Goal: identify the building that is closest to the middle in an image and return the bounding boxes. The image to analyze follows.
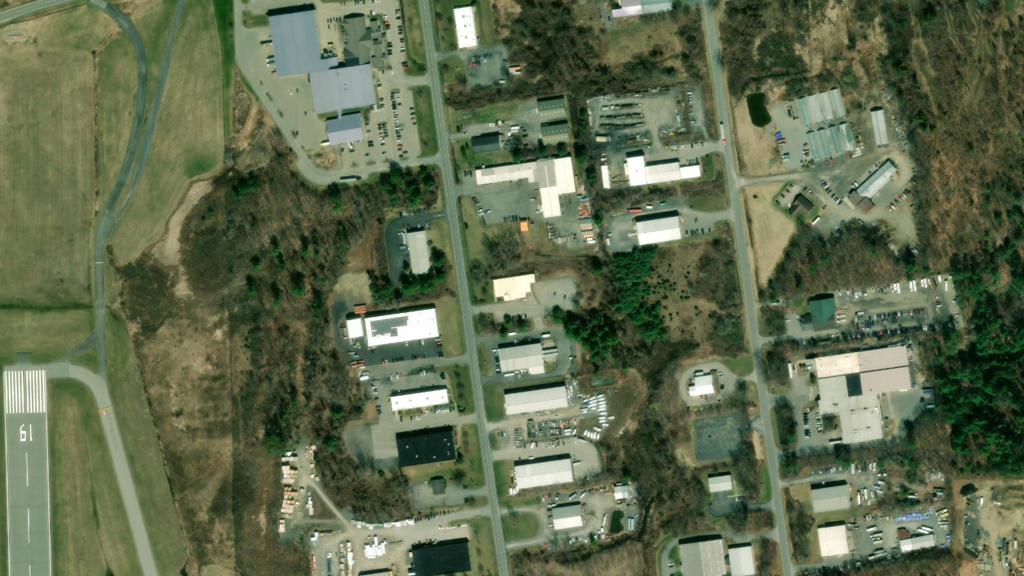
[493,274,536,301]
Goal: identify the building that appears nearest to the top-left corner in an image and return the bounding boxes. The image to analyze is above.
[268,8,338,75]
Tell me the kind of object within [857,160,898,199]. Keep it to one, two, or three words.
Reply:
barn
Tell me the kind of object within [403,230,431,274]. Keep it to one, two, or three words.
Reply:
building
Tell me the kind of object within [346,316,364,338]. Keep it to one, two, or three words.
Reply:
shed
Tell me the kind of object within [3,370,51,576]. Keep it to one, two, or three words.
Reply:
runway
